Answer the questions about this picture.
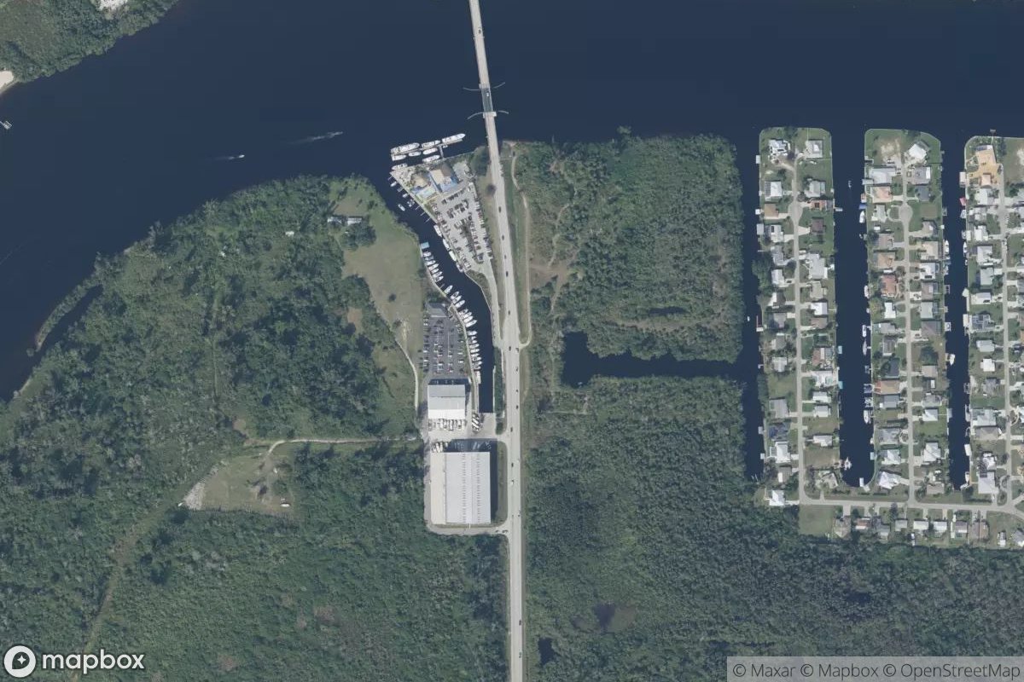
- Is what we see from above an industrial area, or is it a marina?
marina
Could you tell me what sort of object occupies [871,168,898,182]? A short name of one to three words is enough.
house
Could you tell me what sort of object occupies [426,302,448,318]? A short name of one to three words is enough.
building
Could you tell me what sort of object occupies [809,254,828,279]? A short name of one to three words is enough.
house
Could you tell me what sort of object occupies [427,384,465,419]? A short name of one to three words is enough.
building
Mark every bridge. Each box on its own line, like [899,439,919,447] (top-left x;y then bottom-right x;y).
[463,0,508,205]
